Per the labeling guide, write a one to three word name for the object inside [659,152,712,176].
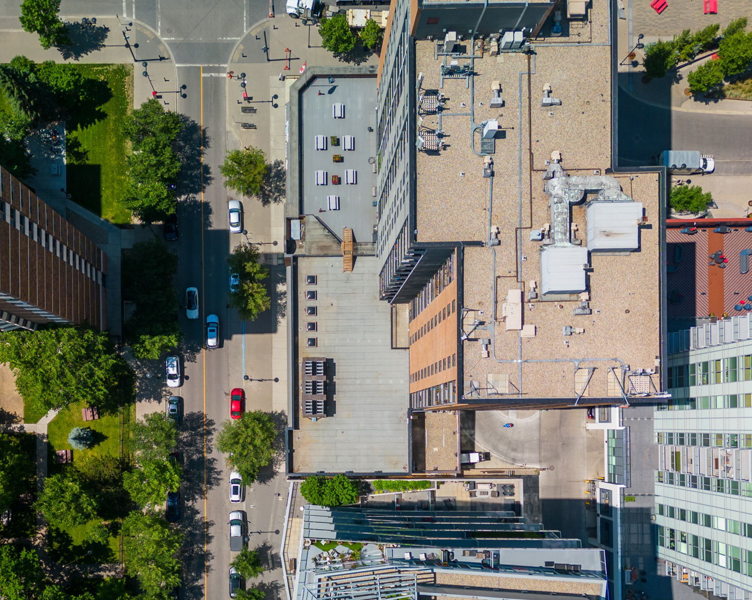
truck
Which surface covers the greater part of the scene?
buildings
